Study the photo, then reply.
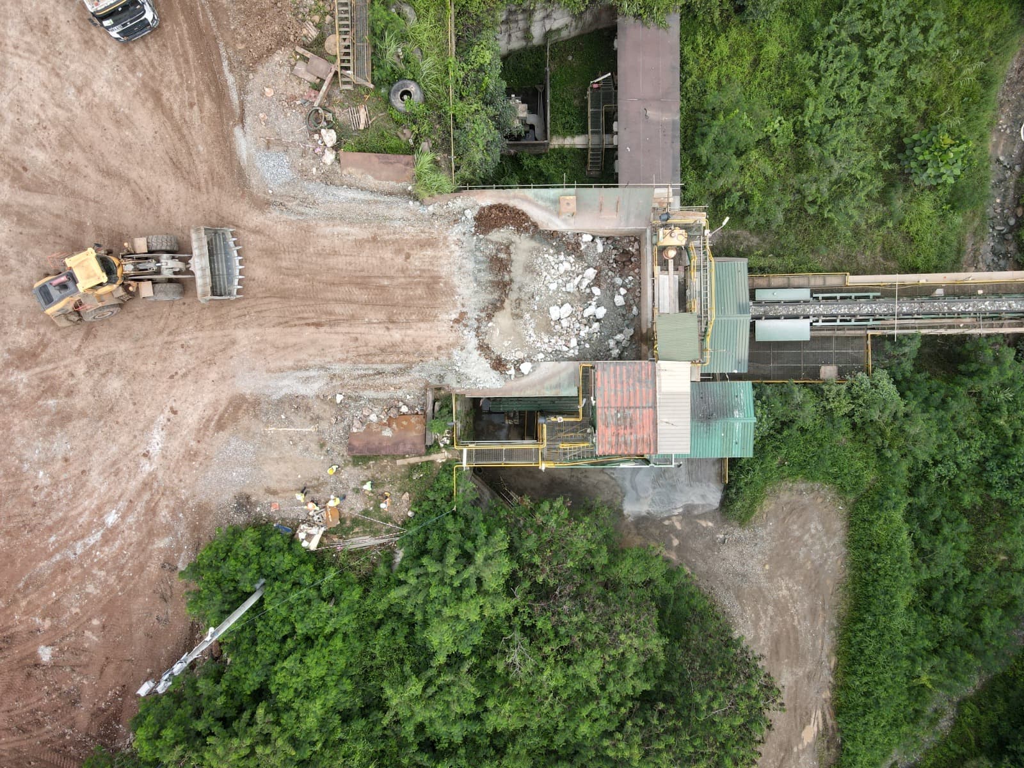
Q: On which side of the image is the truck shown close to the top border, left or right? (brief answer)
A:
left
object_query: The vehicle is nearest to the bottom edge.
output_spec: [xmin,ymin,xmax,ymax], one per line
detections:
[27,226,247,338]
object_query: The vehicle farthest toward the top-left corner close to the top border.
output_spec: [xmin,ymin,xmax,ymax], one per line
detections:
[82,0,162,49]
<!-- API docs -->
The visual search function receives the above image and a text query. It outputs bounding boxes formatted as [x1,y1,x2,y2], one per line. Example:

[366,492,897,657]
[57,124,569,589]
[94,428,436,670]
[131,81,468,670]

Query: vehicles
[27,226,247,338]
[82,0,162,49]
